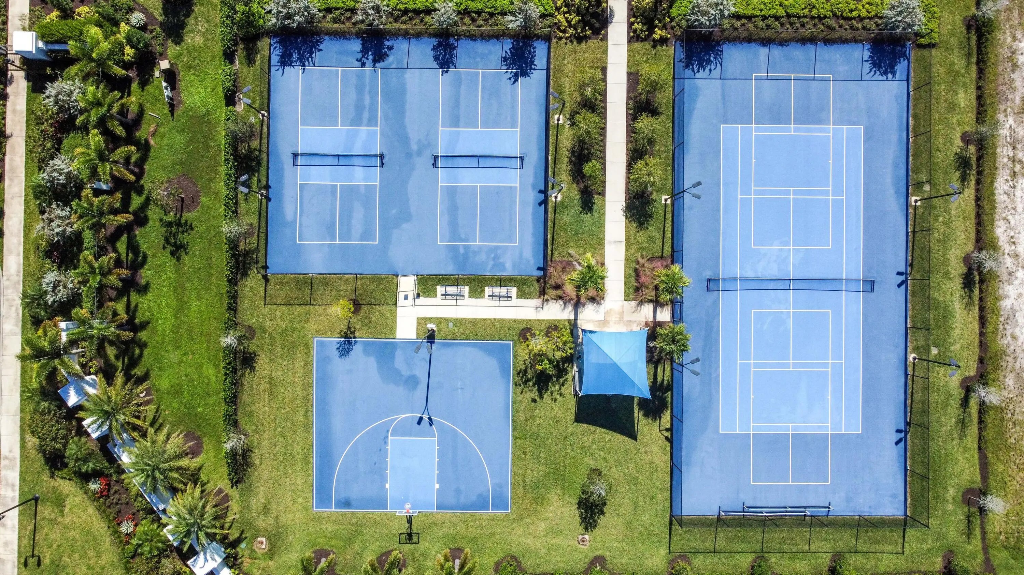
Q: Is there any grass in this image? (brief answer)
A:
Yes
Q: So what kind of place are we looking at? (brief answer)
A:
sports ground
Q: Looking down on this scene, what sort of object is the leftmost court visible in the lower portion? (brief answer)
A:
basketball court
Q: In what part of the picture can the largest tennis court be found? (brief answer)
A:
right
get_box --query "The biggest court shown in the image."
[672,41,911,516]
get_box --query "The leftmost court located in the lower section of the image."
[313,337,513,513]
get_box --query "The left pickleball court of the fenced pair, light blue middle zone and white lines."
[297,67,380,243]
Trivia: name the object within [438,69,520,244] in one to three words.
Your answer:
sports court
